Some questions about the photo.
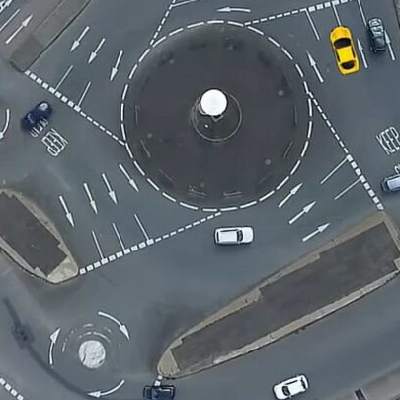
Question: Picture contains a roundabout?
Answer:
Yes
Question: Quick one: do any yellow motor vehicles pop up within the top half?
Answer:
Yes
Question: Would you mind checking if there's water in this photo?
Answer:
No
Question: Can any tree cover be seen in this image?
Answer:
No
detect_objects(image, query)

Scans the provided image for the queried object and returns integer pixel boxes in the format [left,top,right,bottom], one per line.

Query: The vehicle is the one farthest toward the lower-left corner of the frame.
[143,382,176,400]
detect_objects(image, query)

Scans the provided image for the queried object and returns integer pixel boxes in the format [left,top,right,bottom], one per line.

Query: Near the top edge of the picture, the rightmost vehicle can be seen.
[366,19,388,55]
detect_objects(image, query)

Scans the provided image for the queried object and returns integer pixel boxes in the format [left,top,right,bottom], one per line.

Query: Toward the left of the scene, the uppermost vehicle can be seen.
[22,101,54,131]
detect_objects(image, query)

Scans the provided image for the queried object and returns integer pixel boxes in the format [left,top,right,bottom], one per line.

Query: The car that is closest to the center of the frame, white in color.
[214,226,254,244]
